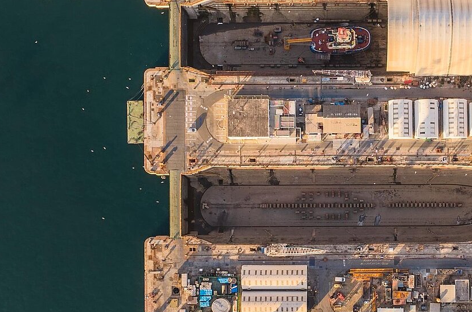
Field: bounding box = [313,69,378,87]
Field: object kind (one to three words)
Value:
crane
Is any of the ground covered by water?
Yes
